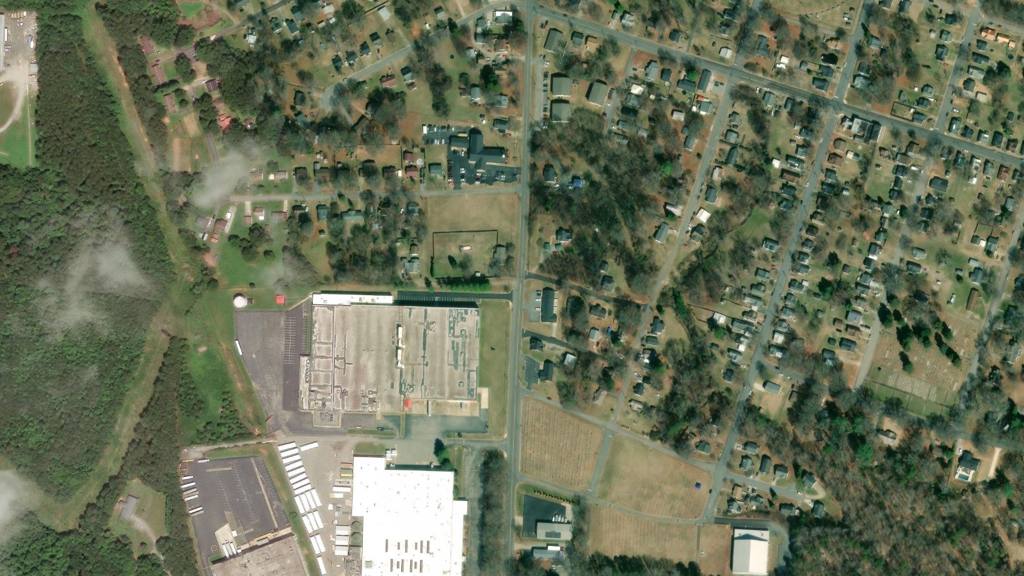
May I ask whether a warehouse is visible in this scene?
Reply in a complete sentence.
Yes, a warehouse can be made out from above.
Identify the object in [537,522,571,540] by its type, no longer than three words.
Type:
house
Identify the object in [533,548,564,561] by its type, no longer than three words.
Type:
house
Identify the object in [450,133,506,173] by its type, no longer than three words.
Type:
building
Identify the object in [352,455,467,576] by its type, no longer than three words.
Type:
warehouse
